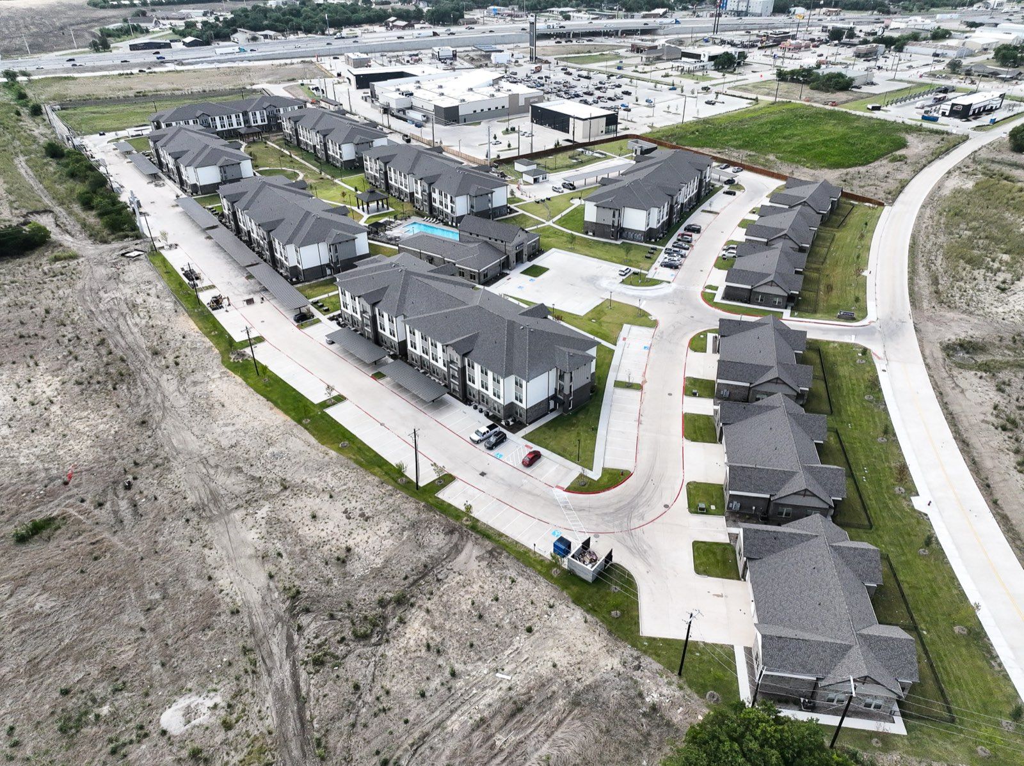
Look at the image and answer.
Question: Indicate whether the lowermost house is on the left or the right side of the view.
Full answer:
It is on the right.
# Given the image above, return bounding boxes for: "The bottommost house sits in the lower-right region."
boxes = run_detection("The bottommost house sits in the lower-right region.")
[737,515,919,708]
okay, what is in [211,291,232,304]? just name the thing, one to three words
vehicle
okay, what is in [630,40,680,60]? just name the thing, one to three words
building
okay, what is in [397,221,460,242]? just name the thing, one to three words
swimming pool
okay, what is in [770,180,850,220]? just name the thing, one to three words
house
